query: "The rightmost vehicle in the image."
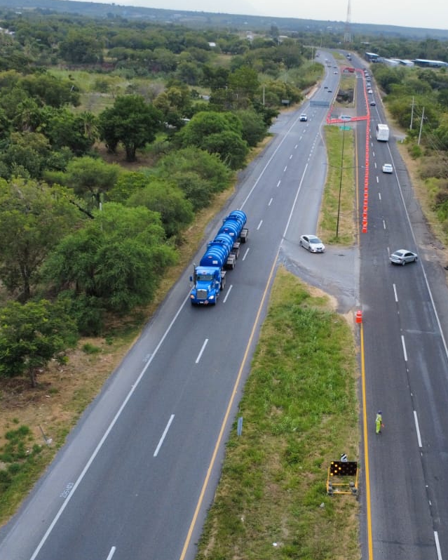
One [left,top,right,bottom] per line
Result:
[391,250,422,266]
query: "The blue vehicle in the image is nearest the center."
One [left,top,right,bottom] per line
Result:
[193,208,254,301]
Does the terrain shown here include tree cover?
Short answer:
Yes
